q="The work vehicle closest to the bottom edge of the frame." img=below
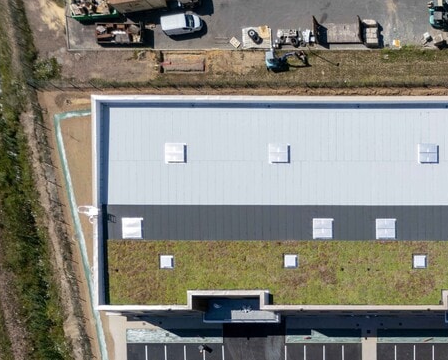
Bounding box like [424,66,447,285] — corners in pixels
[265,47,302,71]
